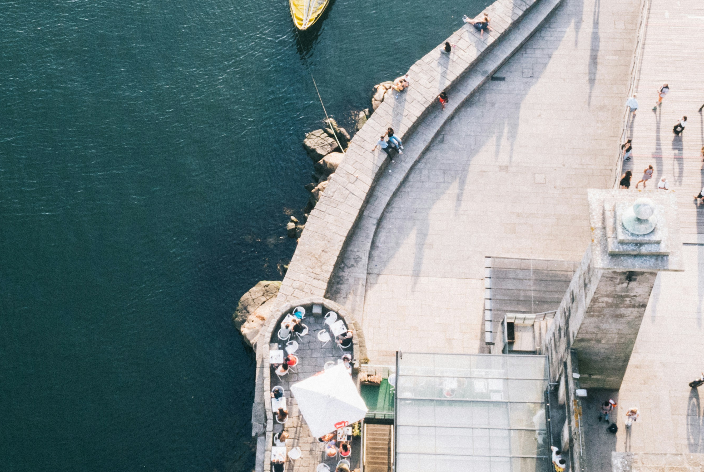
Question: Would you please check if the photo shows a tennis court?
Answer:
No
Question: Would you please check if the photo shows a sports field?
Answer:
No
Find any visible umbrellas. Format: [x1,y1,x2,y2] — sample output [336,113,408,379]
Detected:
[290,363,369,440]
